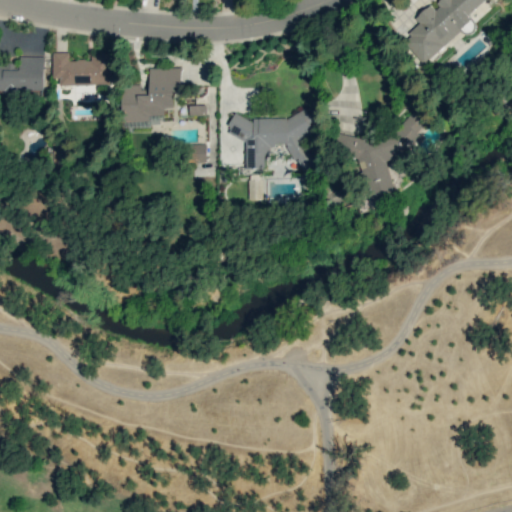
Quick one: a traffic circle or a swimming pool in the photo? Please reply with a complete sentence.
The image shows a swimming pool.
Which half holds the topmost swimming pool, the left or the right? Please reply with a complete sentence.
It is on the right.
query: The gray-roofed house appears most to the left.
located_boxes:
[0,57,44,95]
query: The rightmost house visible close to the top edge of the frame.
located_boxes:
[404,0,485,61]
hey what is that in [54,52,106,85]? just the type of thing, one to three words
house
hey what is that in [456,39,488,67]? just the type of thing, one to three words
swimming pool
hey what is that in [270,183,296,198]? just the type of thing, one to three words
swimming pool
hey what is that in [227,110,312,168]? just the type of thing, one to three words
house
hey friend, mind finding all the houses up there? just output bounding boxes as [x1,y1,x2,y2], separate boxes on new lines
[120,67,182,123]
[227,110,312,168]
[54,52,106,85]
[338,114,424,196]
[404,0,485,61]
[0,57,44,95]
